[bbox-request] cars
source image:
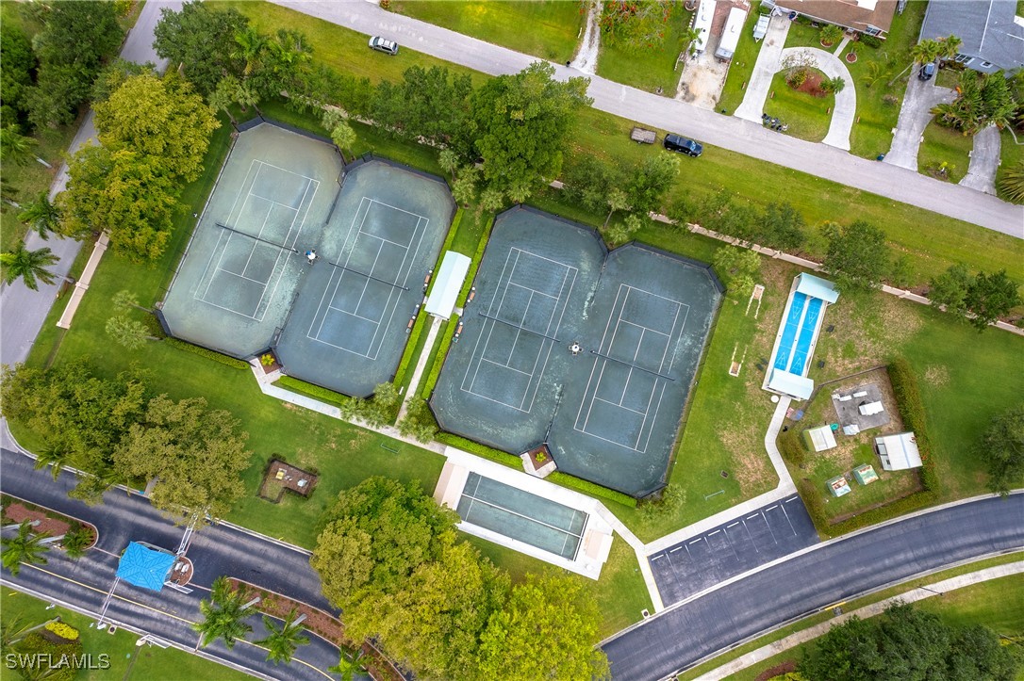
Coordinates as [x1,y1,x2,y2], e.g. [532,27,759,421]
[369,34,401,54]
[665,132,701,155]
[918,60,937,83]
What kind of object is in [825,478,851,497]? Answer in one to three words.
shed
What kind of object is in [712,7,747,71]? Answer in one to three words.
trailer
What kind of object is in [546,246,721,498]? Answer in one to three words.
tennis court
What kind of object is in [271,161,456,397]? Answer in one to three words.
tennis court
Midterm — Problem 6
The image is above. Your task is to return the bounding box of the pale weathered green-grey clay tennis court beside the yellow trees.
[162,123,347,357]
